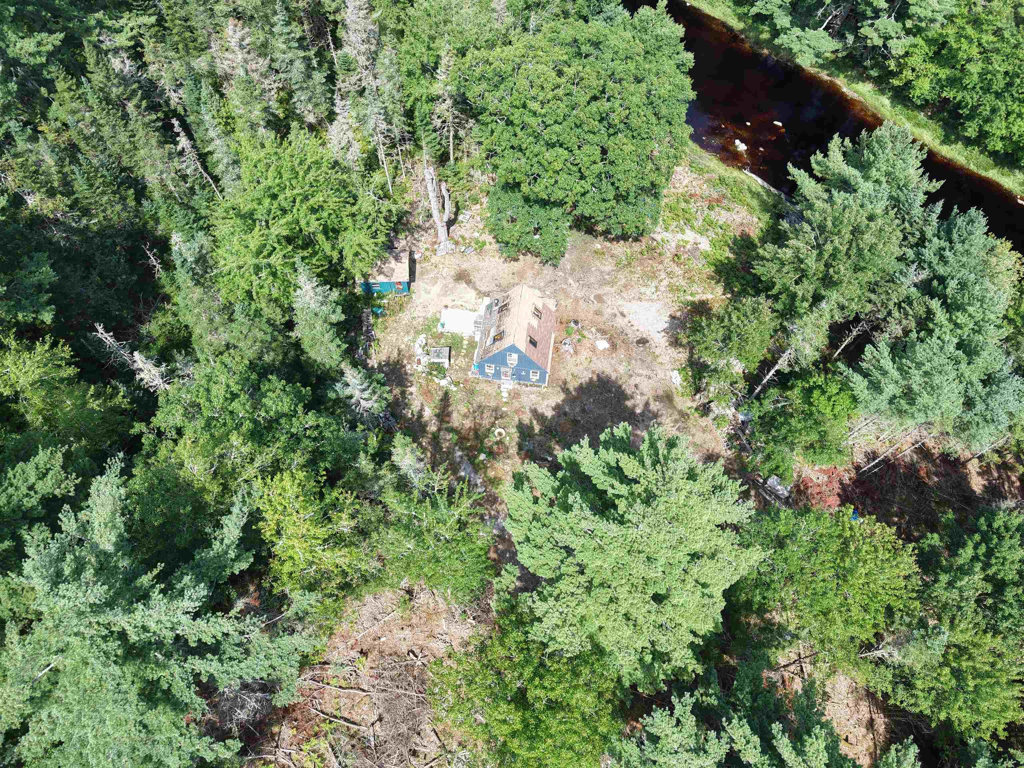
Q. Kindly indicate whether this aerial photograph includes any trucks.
No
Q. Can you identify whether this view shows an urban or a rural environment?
rural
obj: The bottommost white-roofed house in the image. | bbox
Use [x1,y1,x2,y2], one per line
[476,280,559,386]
